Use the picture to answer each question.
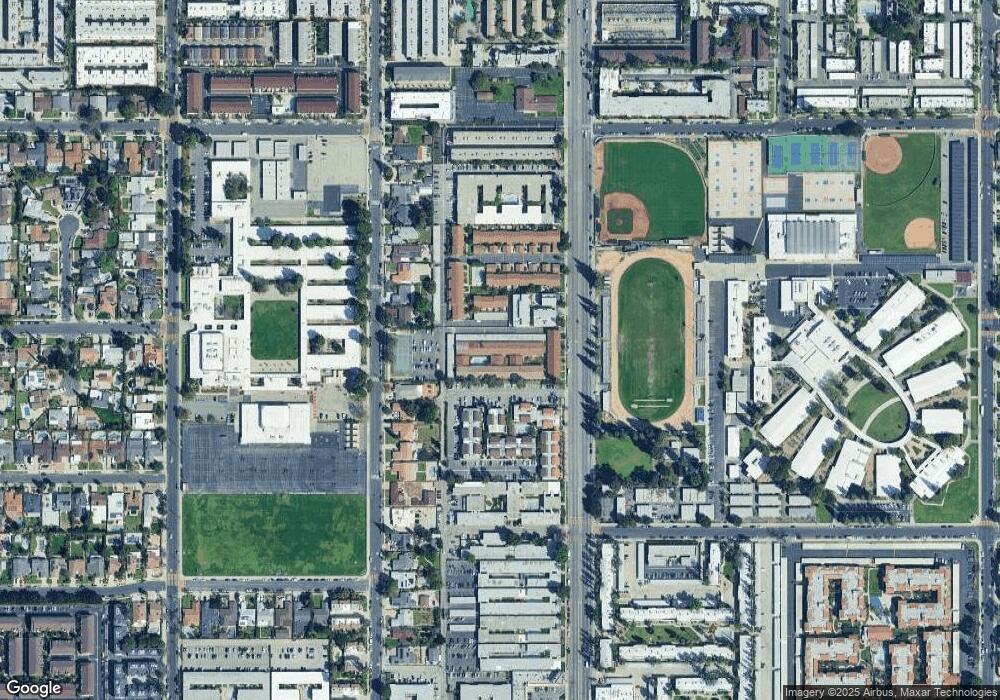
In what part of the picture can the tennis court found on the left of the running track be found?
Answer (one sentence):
Look in the center portion of the view to spot the tennis court found on the left of the running track.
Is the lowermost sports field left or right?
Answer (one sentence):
The lowermost sports field is on the left side of the image.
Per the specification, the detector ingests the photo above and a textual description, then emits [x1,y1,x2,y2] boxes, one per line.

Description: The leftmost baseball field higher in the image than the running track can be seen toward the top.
[598,140,705,240]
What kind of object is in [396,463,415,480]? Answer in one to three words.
house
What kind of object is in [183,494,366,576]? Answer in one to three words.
sports field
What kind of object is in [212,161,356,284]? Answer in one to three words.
building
